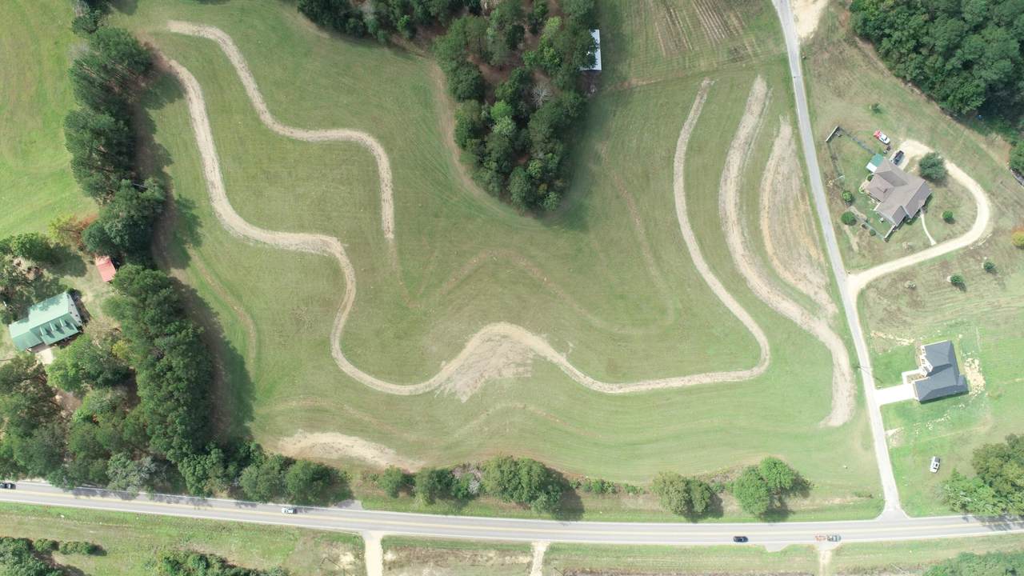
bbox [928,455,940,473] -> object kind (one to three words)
vehicle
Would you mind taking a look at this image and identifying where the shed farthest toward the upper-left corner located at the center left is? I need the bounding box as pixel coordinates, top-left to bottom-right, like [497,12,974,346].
[94,257,115,282]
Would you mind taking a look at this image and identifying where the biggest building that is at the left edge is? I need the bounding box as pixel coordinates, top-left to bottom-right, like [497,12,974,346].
[9,292,87,351]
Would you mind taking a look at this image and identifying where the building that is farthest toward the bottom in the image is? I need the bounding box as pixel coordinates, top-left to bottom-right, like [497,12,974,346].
[910,338,970,406]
